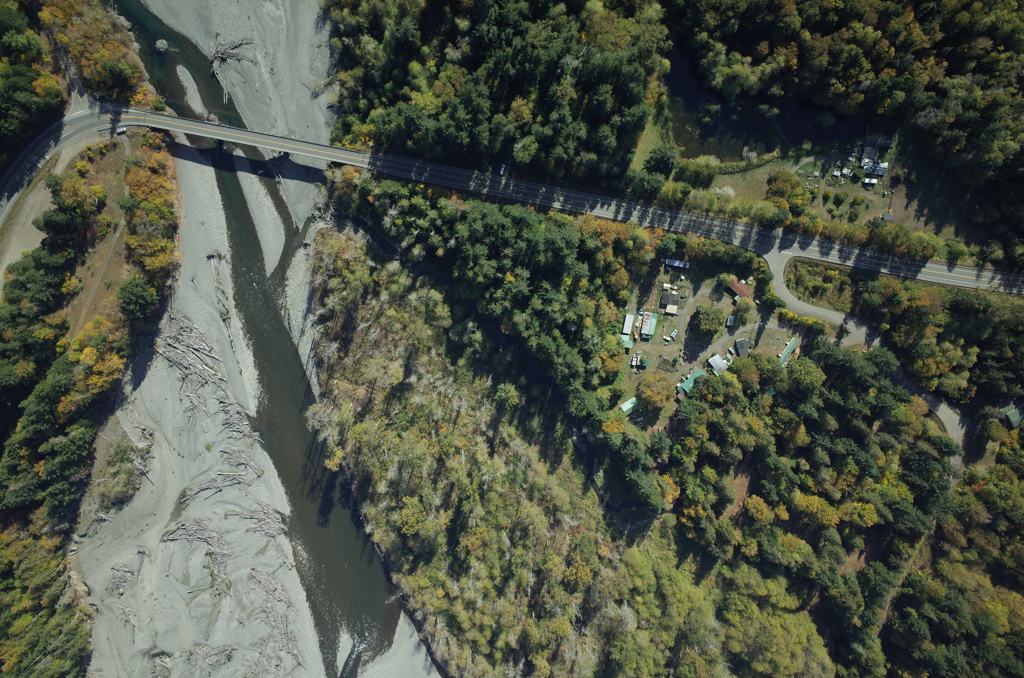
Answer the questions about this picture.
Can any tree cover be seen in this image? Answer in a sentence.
Yes, the picture does contain tree cover.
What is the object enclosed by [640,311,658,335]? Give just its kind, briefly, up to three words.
building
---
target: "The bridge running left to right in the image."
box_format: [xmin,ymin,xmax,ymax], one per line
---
[149,109,332,162]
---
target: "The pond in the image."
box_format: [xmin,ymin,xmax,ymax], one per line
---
[665,44,867,161]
